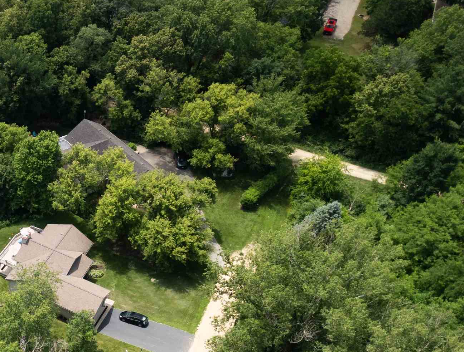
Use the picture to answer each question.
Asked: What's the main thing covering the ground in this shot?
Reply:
trees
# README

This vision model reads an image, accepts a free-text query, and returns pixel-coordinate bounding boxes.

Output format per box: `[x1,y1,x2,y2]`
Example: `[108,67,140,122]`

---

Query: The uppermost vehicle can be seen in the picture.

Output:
[323,19,337,34]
